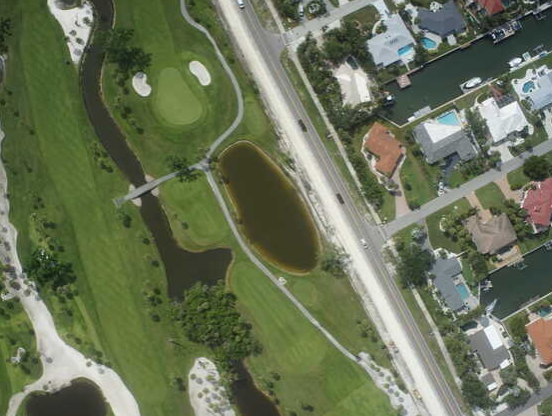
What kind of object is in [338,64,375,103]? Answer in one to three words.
house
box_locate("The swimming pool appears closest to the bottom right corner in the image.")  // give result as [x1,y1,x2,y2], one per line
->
[529,304,552,323]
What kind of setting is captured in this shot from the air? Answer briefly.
golf course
